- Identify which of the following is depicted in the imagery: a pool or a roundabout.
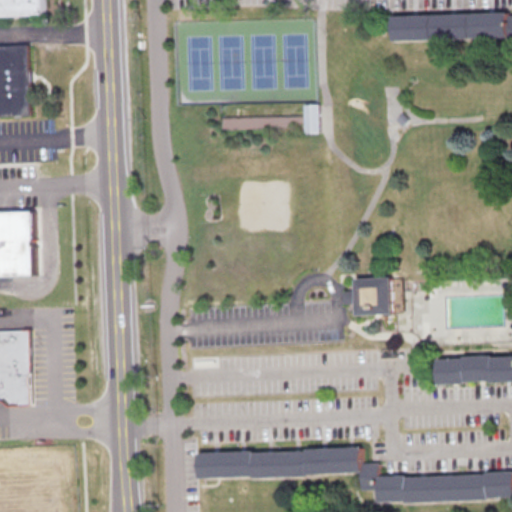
pool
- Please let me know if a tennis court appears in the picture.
Yes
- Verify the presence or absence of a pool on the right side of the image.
Yes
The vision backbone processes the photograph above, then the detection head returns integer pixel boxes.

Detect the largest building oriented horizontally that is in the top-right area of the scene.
[388,13,509,40]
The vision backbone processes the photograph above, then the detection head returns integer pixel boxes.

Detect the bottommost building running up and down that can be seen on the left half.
[0,330,34,406]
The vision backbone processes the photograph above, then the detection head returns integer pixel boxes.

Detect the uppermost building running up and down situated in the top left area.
[0,44,32,116]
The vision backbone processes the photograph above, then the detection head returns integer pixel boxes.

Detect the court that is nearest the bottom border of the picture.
[240,180,290,232]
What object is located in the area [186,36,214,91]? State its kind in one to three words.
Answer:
tennis court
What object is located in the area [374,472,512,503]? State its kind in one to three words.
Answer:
building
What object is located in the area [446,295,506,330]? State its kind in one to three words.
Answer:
swimming pool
